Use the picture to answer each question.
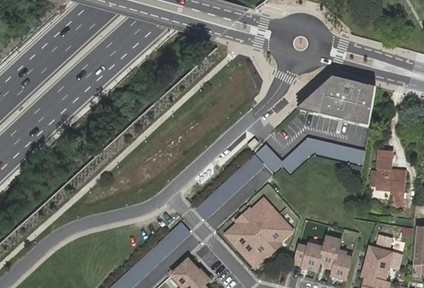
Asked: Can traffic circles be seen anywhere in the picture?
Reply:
Yes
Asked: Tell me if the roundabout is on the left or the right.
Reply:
right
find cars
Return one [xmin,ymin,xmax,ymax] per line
[148,224,154,234]
[222,276,233,285]
[210,260,222,270]
[18,67,28,78]
[156,217,165,227]
[162,210,172,222]
[292,266,298,278]
[226,280,237,288]
[60,26,70,36]
[341,123,347,134]
[320,58,331,64]
[219,270,229,279]
[219,148,229,158]
[29,126,40,136]
[214,264,226,274]
[140,229,147,240]
[280,130,288,140]
[129,236,136,246]
[76,70,87,80]
[20,77,30,86]
[94,66,104,76]
[306,114,312,126]
[262,111,272,120]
